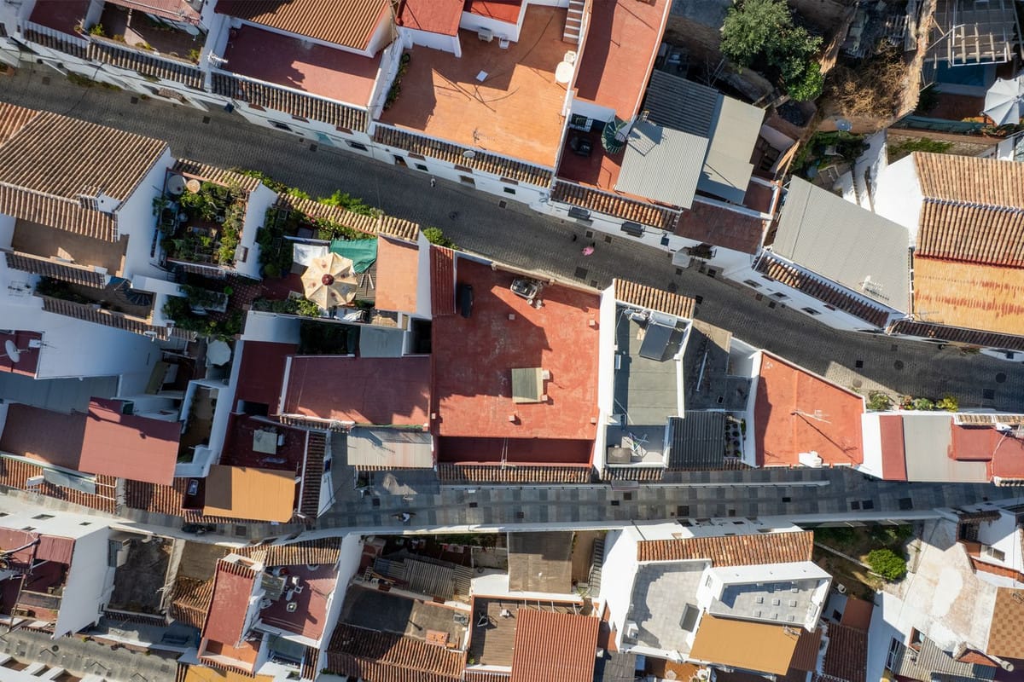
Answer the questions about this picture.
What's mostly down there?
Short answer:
buildings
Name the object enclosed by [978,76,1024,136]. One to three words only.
umbrella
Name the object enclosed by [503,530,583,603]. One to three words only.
house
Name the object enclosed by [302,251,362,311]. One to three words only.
umbrella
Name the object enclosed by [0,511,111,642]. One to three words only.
house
